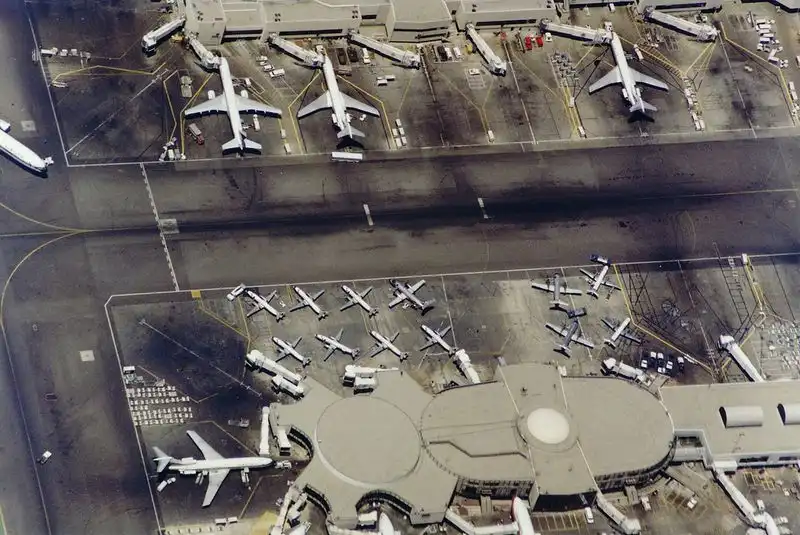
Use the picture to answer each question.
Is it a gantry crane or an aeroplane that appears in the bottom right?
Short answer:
aeroplane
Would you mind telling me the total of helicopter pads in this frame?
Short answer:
0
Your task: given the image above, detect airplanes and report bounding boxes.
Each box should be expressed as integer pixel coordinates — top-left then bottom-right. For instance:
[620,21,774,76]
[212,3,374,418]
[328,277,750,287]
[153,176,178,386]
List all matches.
[316,329,360,360]
[601,319,639,346]
[763,512,785,535]
[594,34,671,113]
[296,52,378,132]
[421,325,459,353]
[580,266,621,295]
[370,332,409,361]
[291,287,329,317]
[511,498,529,535]
[531,274,581,311]
[380,510,396,535]
[155,430,274,504]
[0,115,47,168]
[273,336,312,365]
[545,320,593,355]
[186,57,281,147]
[341,286,380,314]
[247,291,285,319]
[388,280,434,312]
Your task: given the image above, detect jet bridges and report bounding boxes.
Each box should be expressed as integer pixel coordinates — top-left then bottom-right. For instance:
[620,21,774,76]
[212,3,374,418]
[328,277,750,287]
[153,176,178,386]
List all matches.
[709,463,766,523]
[342,363,384,378]
[270,373,312,401]
[267,31,327,69]
[325,523,383,535]
[593,491,640,532]
[349,375,380,395]
[454,346,481,385]
[255,403,271,457]
[602,358,654,390]
[464,21,509,76]
[286,486,309,520]
[540,17,614,45]
[142,14,186,48]
[244,350,311,390]
[644,7,720,41]
[270,479,295,535]
[440,508,520,535]
[185,34,221,68]
[718,336,768,383]
[346,29,423,70]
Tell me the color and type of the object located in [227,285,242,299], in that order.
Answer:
white vehicle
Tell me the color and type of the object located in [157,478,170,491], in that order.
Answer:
white vehicle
